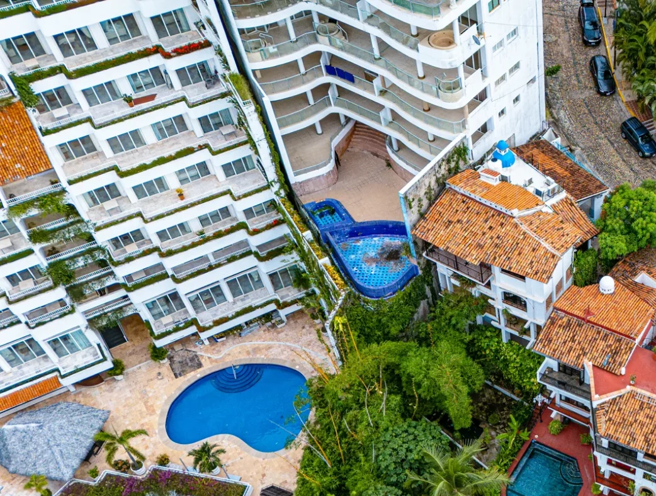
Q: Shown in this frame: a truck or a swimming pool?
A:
swimming pool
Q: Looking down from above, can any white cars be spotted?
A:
No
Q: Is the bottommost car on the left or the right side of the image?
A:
right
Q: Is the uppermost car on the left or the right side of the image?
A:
right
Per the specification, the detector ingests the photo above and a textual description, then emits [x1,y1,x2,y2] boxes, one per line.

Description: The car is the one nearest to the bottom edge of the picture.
[616,105,656,159]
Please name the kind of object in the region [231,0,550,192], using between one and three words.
building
